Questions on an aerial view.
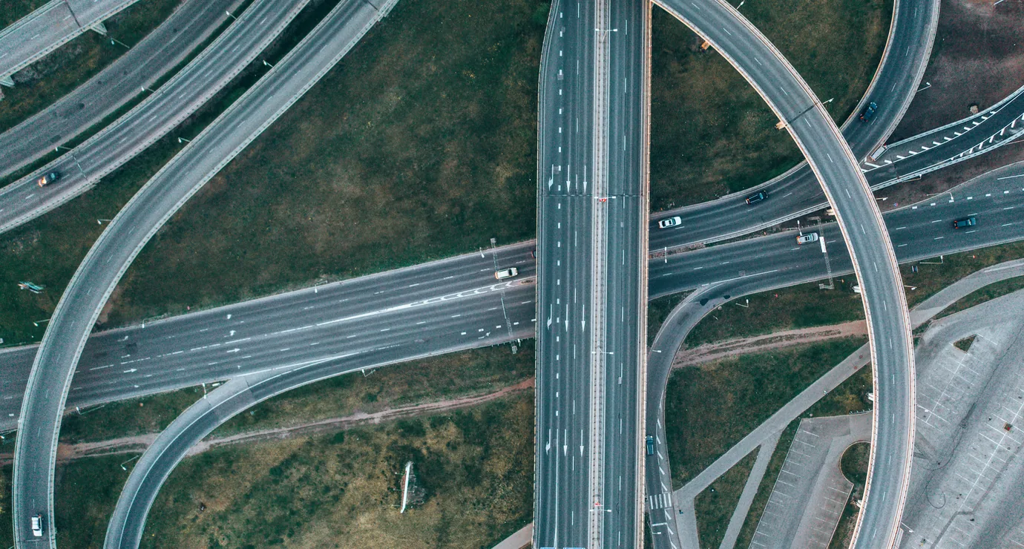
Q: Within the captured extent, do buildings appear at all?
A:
No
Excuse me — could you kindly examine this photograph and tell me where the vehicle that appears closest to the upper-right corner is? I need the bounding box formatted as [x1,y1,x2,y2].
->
[859,102,876,123]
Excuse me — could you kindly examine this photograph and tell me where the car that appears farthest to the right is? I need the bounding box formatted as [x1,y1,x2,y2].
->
[952,217,976,229]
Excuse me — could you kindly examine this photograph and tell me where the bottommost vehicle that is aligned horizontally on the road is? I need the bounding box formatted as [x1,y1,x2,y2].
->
[494,267,519,279]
